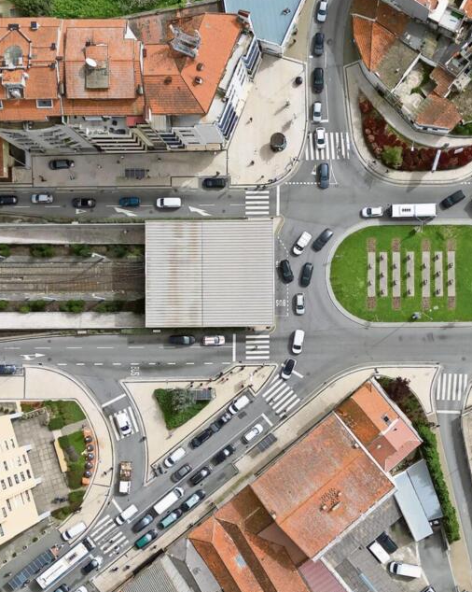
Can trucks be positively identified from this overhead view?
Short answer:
Yes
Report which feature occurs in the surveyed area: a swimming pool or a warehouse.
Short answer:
warehouse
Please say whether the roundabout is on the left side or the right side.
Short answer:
right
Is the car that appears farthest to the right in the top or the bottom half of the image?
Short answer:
top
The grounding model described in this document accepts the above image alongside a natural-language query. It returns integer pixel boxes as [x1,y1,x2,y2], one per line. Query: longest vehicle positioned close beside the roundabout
[388,205,437,221]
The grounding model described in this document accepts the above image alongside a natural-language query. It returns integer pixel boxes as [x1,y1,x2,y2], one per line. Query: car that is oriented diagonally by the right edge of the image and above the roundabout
[440,189,465,209]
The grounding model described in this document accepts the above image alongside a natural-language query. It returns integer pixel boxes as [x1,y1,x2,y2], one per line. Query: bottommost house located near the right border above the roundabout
[414,93,462,135]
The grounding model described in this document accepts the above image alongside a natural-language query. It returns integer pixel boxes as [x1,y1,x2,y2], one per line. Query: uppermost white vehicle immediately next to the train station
[155,196,180,209]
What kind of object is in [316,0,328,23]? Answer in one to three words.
vehicle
